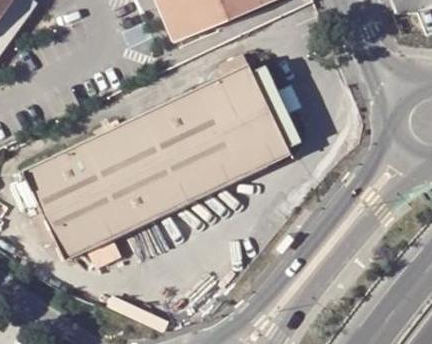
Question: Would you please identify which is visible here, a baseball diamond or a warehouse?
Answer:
warehouse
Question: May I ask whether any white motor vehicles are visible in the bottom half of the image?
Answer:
Yes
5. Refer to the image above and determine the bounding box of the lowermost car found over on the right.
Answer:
[286,308,306,331]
